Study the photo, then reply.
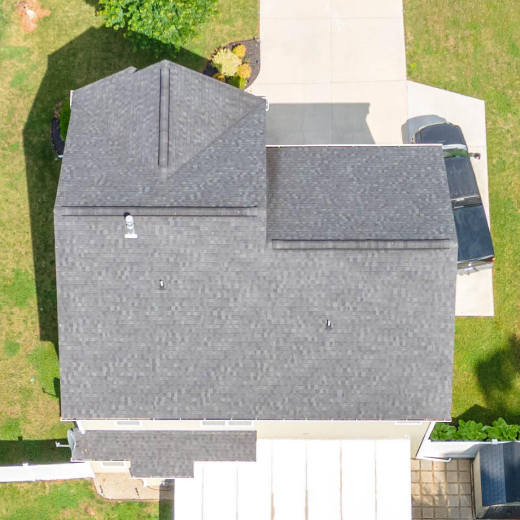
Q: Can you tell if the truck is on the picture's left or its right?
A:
right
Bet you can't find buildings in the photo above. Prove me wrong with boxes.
[55,60,460,494]
[470,441,520,518]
